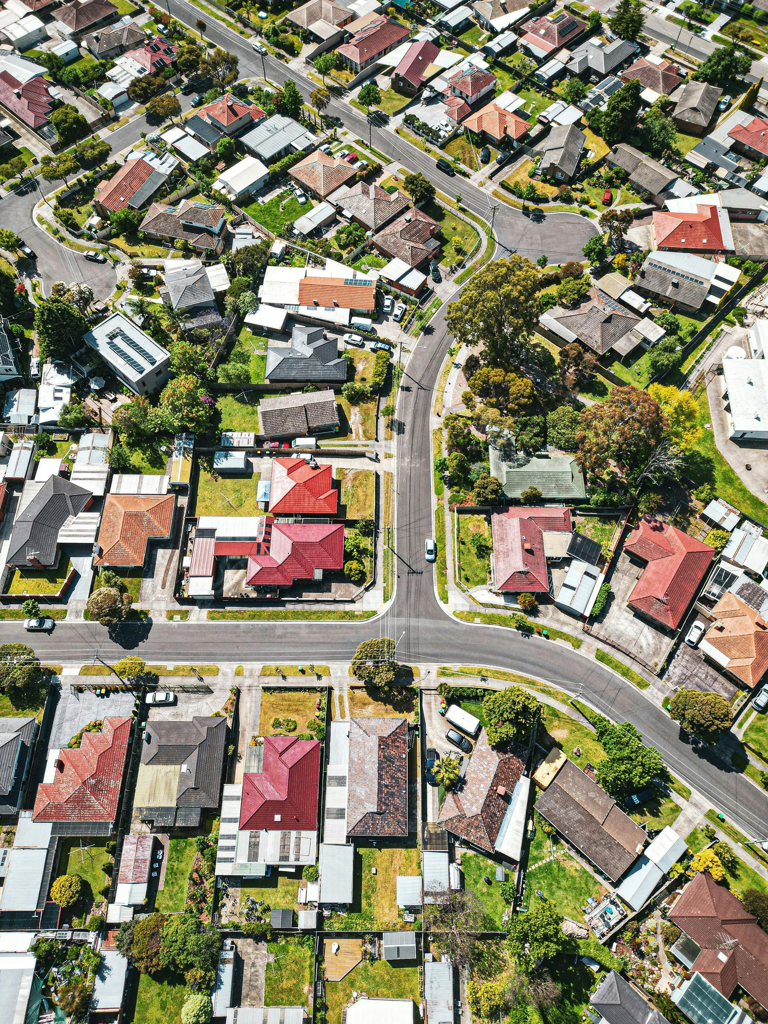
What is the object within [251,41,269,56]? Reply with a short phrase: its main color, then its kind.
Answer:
white car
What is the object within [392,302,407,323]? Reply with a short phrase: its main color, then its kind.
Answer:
white car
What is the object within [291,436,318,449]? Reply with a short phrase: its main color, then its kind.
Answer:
white vehicle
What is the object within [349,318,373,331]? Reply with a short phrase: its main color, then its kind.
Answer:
white vehicle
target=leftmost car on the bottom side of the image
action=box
[23,617,54,630]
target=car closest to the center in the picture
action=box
[424,538,436,562]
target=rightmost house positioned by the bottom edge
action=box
[666,872,768,1024]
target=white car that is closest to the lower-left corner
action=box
[145,690,175,704]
